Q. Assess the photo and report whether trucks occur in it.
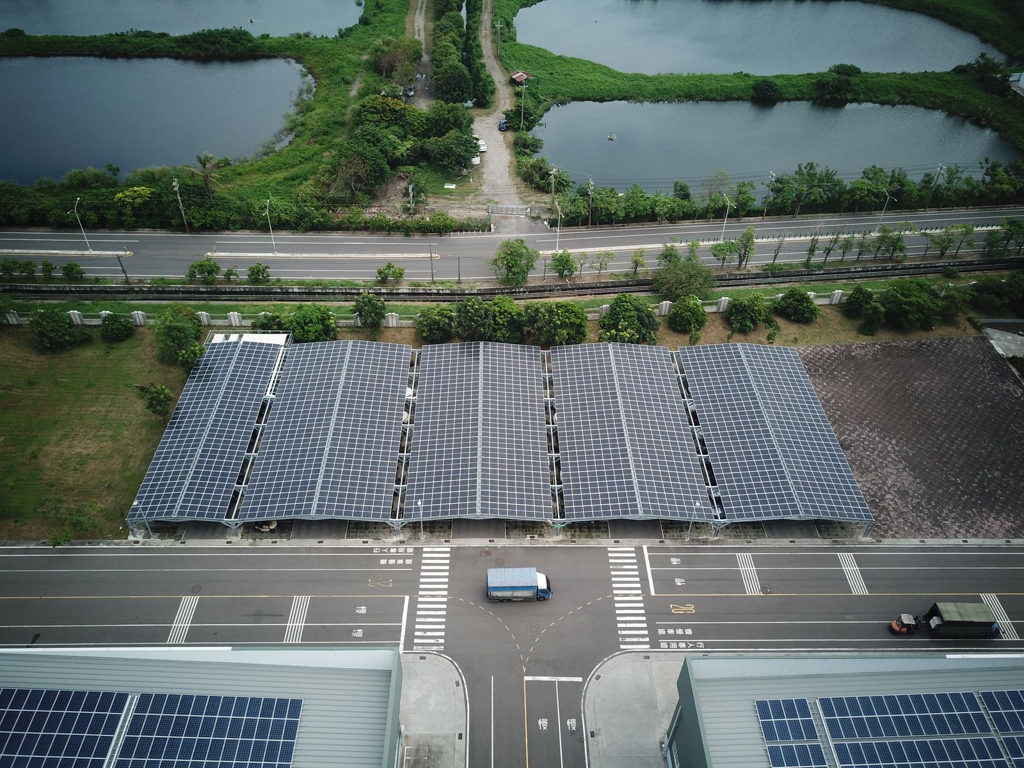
Yes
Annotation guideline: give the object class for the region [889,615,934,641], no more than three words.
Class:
work vehicle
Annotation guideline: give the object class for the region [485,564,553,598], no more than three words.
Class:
truck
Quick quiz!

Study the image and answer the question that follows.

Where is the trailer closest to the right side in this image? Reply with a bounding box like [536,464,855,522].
[922,602,998,636]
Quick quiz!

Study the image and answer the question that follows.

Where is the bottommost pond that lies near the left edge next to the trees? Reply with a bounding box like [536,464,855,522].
[0,55,317,189]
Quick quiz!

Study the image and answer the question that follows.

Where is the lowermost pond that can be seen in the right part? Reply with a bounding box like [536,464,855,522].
[537,100,1024,200]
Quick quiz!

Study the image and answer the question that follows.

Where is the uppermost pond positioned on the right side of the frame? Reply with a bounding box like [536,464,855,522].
[513,0,987,70]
